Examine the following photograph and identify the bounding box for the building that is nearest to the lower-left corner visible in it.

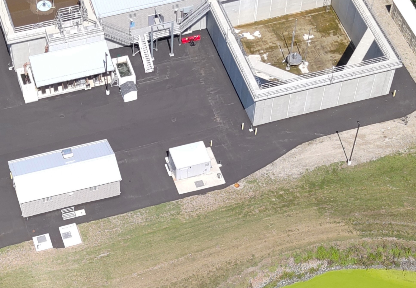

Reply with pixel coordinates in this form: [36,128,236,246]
[9,139,122,218]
